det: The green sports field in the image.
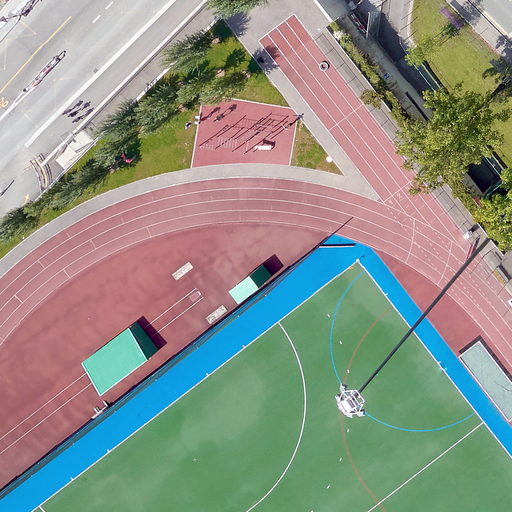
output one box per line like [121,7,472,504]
[0,232,512,512]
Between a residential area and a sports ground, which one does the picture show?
sports ground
